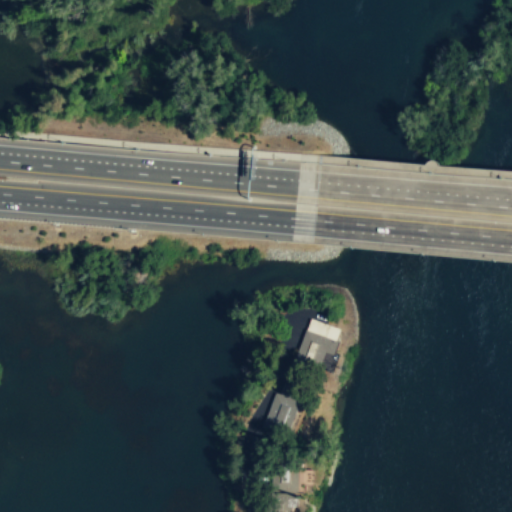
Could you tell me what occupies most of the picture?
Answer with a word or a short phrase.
water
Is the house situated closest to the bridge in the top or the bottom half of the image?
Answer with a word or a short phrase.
bottom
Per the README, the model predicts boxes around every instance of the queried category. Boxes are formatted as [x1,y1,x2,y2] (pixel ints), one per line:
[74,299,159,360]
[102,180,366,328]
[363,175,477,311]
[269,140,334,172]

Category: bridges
[294,154,512,262]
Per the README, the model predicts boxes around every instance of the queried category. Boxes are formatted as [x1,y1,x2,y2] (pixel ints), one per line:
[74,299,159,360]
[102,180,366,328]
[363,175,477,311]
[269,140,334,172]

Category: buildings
[274,496,302,512]
[264,394,298,436]
[299,319,342,366]
[272,472,300,496]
